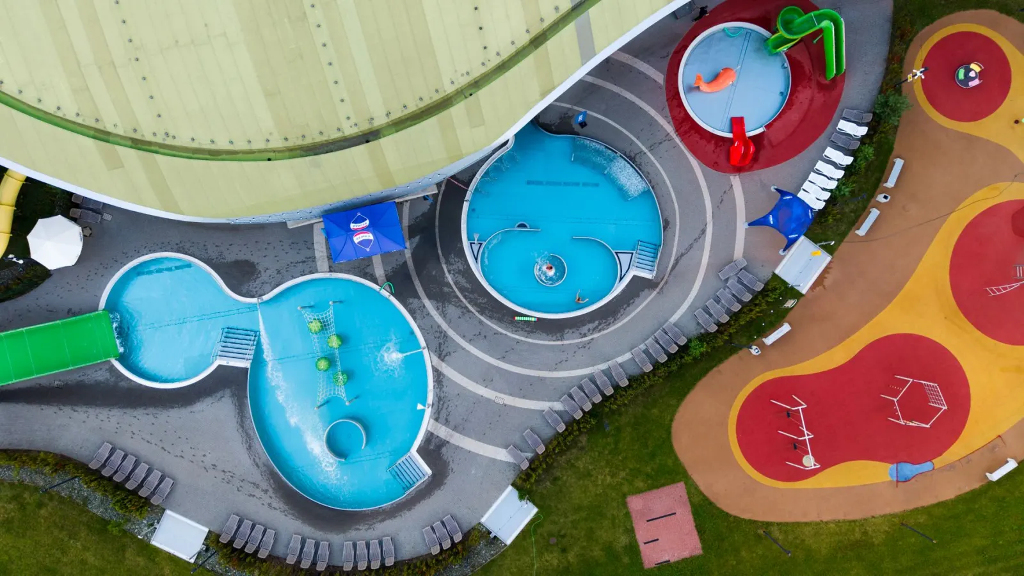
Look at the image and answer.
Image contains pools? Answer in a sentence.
Yes, there is a pool in the image.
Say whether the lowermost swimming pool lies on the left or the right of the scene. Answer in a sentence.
It is on the left.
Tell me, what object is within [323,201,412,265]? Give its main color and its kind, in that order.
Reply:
blue tent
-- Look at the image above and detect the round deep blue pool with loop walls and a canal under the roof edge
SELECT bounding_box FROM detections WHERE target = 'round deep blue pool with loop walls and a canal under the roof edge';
[461,117,664,319]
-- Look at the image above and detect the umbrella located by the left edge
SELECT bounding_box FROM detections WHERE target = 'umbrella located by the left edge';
[27,215,85,270]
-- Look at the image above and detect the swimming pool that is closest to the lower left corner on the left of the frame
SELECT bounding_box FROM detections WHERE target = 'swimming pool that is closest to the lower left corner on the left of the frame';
[100,252,434,511]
